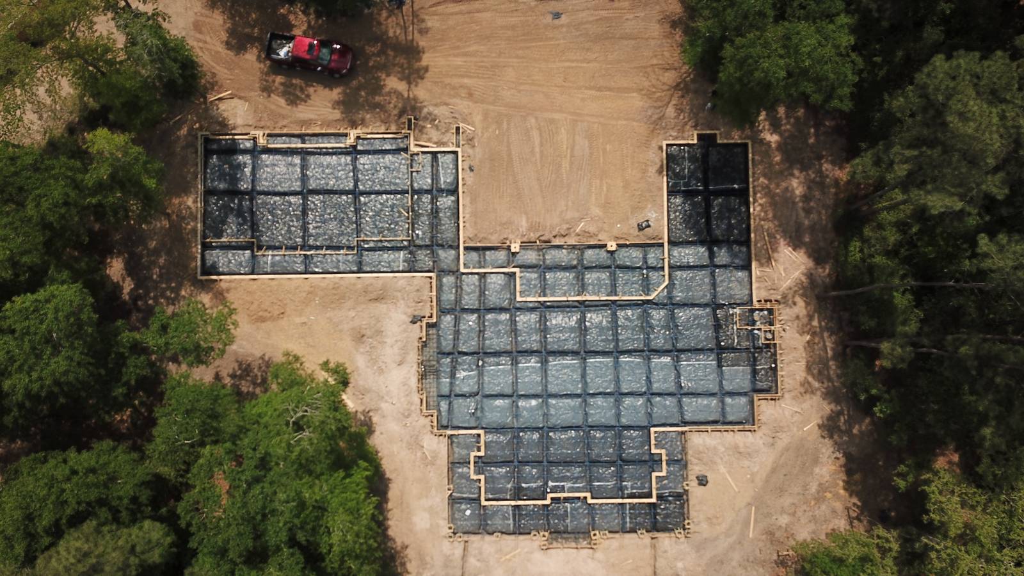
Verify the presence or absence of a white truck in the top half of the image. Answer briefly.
No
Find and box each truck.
[264,29,355,76]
